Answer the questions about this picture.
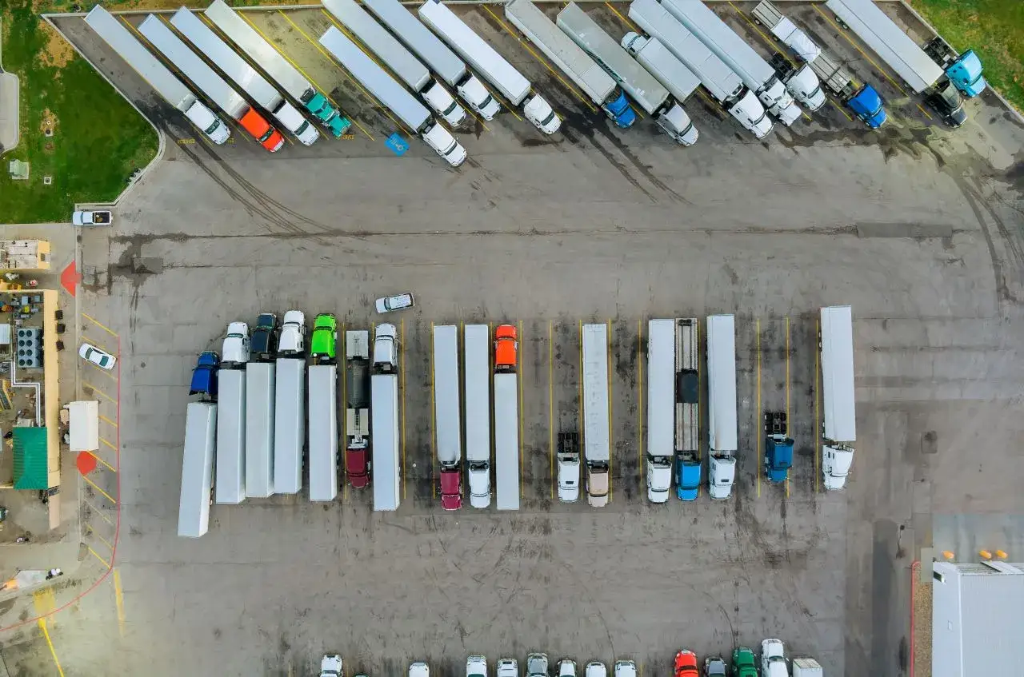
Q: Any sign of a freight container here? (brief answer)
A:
Yes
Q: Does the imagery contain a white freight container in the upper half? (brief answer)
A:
No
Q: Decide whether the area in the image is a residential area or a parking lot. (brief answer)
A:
parking lot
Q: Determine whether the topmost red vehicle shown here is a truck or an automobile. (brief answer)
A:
truck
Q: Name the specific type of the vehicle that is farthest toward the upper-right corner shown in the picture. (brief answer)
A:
truck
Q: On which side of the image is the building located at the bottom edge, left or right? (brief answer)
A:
right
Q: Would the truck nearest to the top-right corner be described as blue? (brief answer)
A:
Yes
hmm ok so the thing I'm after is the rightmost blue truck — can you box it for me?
[925,45,989,100]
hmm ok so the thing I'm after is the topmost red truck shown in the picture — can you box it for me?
[236,89,284,152]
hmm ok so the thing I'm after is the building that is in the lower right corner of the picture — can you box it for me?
[931,564,1024,677]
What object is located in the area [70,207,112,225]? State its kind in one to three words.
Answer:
vehicle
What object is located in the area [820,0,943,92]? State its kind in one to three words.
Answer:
trailer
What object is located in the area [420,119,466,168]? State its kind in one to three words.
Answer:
truck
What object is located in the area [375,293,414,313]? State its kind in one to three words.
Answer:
car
